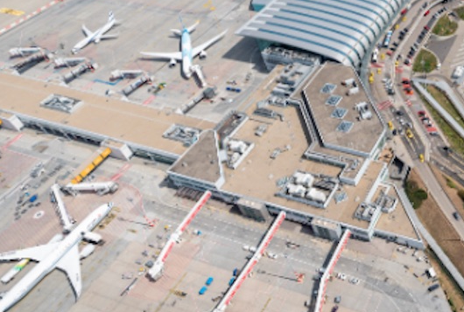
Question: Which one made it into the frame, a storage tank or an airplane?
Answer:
airplane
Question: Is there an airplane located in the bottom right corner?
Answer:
No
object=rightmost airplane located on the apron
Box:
[139,19,228,77]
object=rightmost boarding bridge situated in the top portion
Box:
[178,67,214,115]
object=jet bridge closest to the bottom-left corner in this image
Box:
[50,185,77,235]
